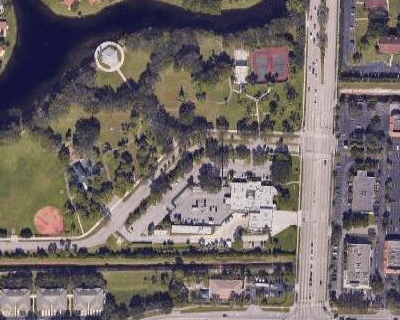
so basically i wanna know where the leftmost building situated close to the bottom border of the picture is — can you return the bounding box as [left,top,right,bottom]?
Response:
[0,288,30,315]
